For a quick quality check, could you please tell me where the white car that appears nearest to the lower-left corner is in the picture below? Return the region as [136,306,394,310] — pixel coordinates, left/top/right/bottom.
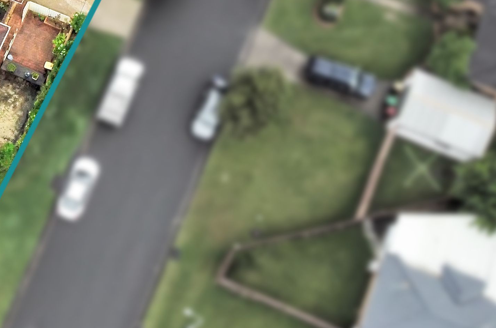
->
[56,158,99,222]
